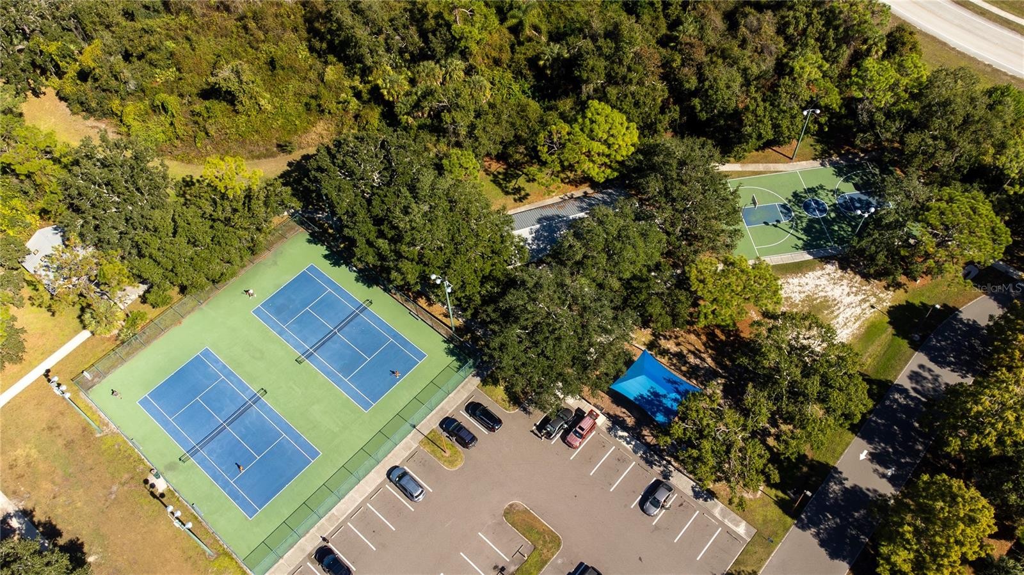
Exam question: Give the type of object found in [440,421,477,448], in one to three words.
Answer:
car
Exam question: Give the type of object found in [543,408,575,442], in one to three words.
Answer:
car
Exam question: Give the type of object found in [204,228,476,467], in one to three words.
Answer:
tennis court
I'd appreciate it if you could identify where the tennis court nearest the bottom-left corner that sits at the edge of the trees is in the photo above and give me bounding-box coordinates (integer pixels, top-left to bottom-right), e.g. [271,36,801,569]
[87,305,382,575]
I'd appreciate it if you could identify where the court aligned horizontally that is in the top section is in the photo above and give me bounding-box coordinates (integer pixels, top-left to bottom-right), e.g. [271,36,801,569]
[707,158,929,262]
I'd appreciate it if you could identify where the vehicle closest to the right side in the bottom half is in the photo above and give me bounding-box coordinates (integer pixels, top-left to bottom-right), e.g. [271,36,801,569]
[643,479,676,518]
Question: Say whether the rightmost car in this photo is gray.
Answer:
Yes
